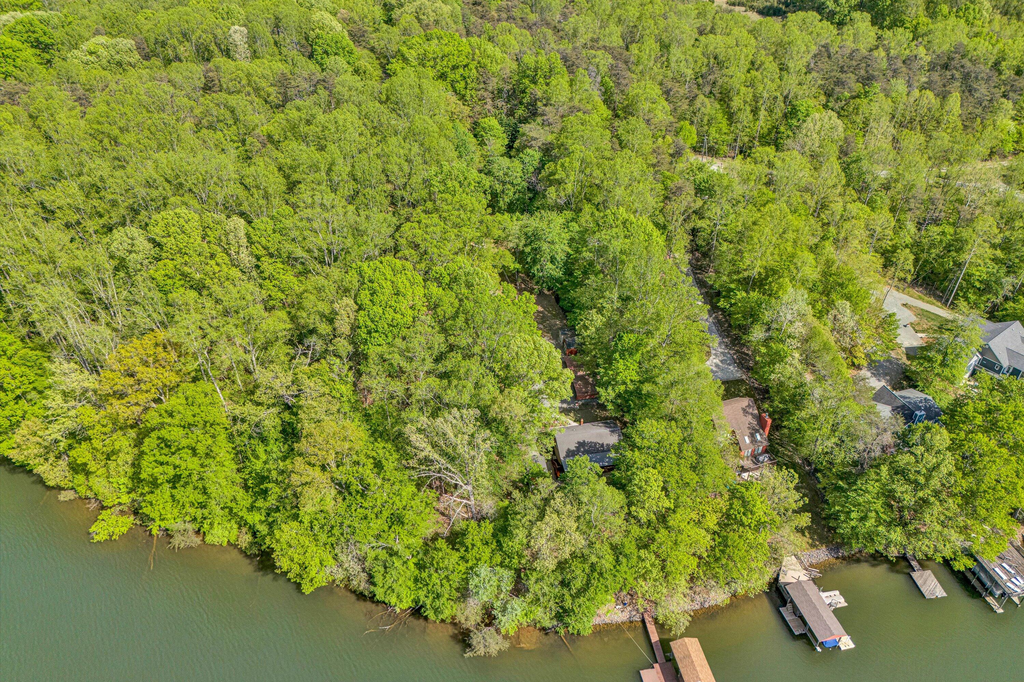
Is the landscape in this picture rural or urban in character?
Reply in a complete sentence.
This place is rural.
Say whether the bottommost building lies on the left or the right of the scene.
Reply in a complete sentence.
It is on the right.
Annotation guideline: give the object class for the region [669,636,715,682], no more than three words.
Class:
building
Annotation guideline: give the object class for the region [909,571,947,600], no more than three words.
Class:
pier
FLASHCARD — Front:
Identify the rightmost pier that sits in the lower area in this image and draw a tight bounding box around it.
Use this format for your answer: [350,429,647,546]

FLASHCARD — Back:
[958,532,1024,622]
